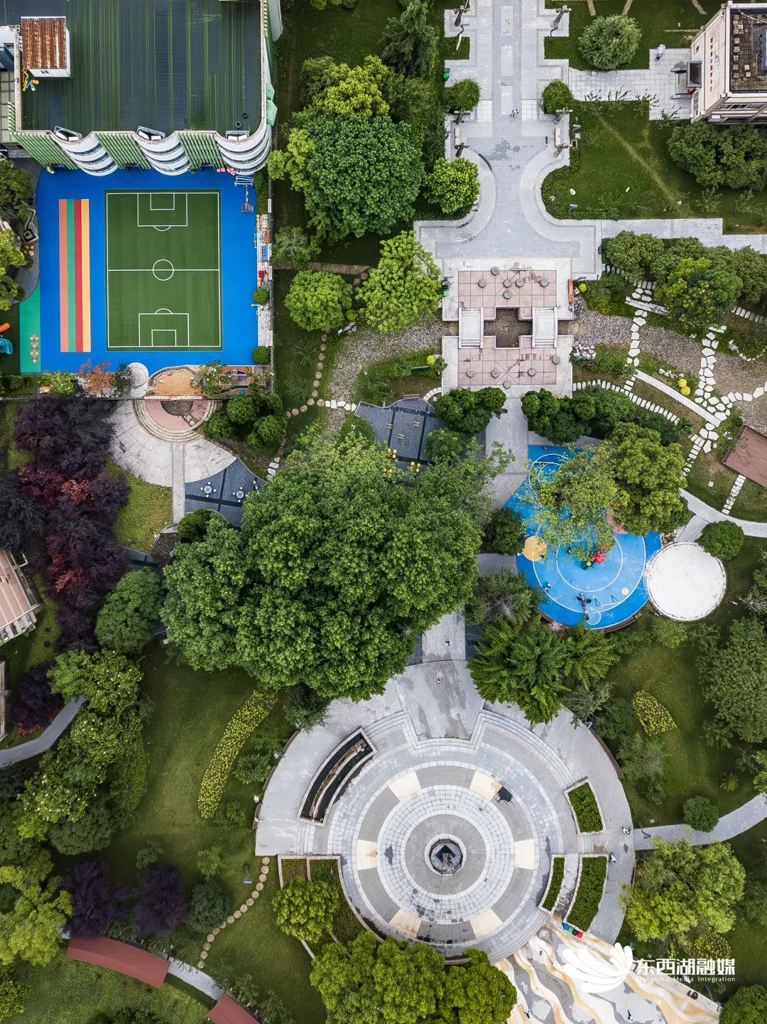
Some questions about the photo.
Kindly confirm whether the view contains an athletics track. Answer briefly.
Yes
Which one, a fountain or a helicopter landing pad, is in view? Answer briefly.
fountain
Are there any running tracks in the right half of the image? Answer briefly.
No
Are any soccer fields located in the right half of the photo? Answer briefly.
No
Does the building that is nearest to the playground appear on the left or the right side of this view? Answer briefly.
right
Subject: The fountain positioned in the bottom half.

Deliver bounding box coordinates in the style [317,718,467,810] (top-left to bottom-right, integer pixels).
[425,834,467,877]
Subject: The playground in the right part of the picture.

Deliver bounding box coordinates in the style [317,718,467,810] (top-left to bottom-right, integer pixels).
[503,445,661,629]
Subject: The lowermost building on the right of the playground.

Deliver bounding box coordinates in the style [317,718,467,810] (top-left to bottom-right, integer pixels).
[709,425,767,490]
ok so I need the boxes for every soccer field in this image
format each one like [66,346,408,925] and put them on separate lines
[104,188,223,352]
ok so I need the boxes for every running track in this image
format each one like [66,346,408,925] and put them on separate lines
[58,199,90,352]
